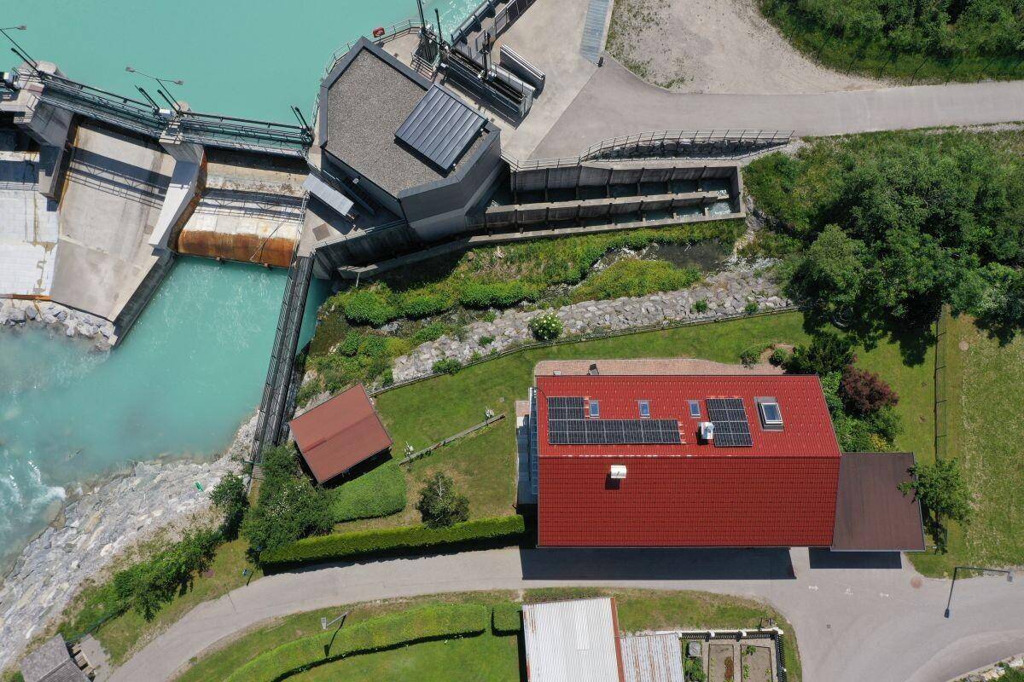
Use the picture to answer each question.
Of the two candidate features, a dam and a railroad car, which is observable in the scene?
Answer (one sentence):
The one in the frame is a dam.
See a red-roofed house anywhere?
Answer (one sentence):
Yes, a red-roofed house appears in the view.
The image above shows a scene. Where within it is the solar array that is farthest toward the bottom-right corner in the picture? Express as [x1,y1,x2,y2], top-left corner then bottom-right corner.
[705,399,755,446]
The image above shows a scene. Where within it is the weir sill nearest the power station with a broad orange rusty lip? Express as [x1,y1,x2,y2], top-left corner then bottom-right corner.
[193,140,308,267]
